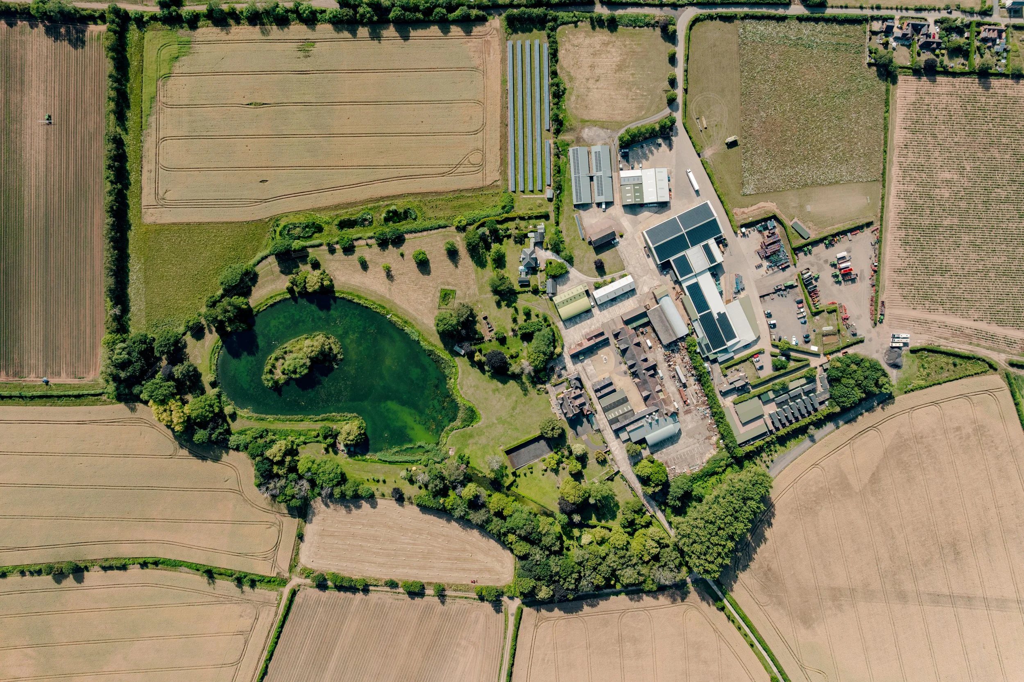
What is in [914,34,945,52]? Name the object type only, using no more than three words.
house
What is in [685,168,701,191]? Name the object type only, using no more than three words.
vehicle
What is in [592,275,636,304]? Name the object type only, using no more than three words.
shed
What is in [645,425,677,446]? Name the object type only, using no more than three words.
building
